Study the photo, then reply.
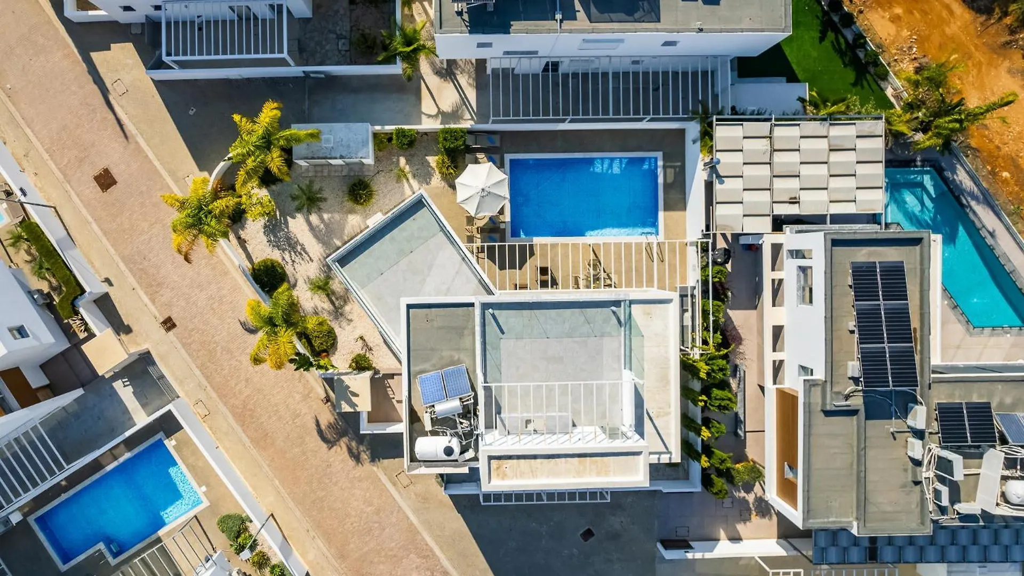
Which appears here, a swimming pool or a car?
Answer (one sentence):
I can see a swimming pool in this picture.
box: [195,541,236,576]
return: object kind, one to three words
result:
building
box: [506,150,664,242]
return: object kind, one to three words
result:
swimming pool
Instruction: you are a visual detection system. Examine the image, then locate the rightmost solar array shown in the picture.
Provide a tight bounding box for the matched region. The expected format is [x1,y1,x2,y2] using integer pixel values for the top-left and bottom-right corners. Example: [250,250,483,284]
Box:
[932,402,997,445]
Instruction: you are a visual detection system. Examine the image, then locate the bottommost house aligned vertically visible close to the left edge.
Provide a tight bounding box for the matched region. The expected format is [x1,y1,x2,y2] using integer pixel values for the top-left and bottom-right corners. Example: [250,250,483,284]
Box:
[0,257,69,410]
